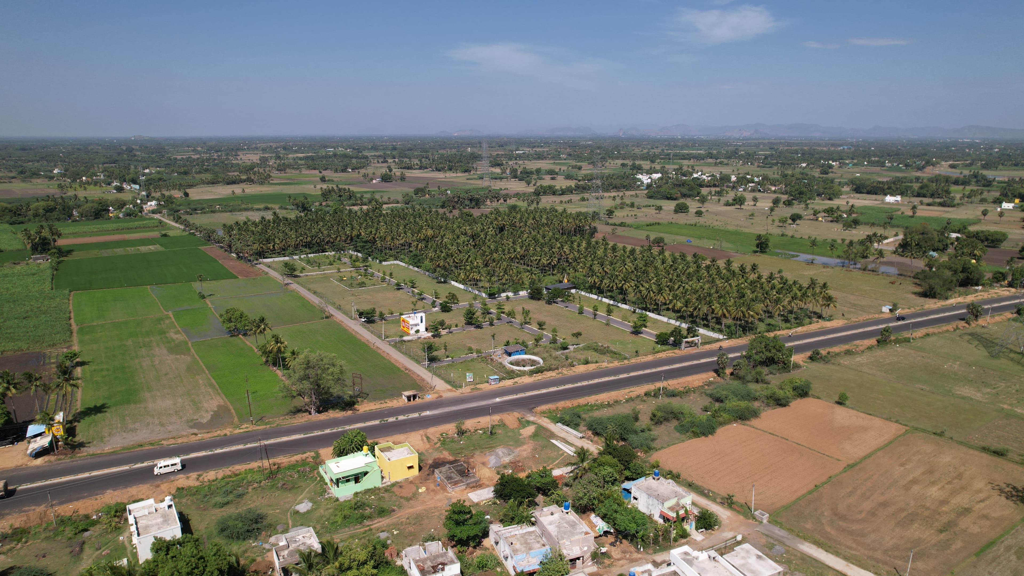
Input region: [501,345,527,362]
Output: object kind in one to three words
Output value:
shed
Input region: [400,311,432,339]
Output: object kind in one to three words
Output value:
house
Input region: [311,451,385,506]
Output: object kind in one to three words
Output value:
house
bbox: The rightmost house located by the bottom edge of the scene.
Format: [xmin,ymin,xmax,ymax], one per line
[724,546,785,576]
